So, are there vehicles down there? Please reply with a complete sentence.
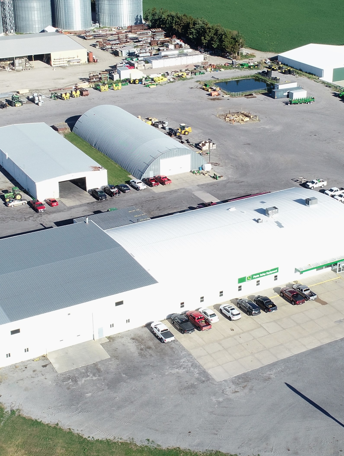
Yes, you can see a vehicle in this photo.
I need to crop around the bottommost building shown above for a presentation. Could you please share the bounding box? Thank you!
[0,185,344,366]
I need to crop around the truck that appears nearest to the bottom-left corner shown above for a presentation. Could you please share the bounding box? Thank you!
[149,319,174,341]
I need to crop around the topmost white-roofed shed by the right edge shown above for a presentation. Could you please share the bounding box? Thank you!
[278,43,344,82]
